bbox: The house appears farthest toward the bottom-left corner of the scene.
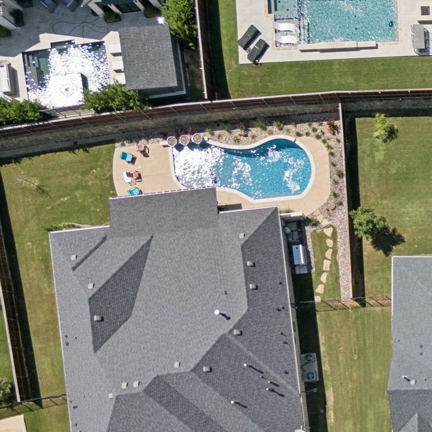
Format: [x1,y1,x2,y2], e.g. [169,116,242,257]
[47,186,306,432]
